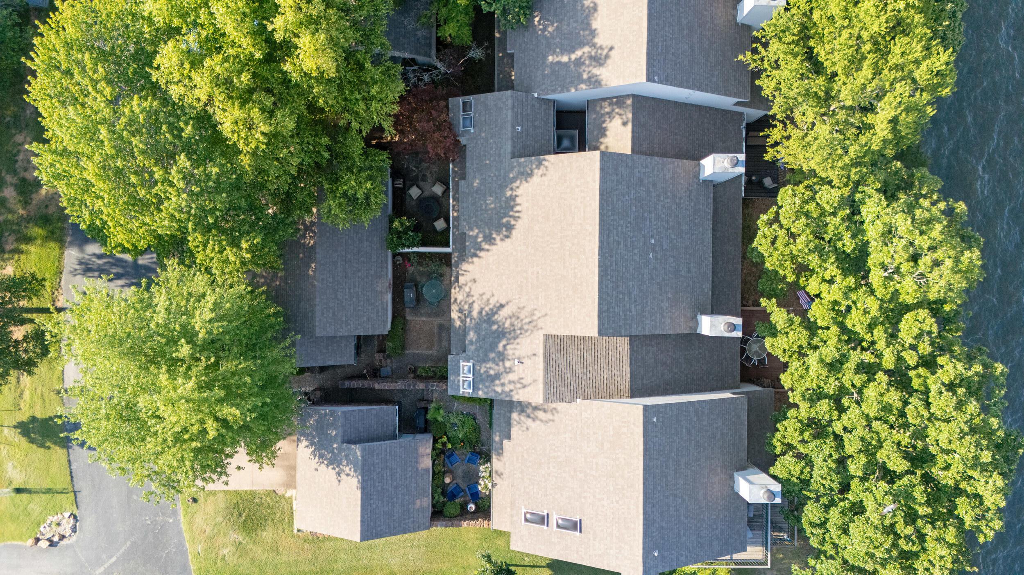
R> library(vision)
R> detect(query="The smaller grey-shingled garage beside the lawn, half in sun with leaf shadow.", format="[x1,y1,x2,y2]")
[297,396,432,542]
